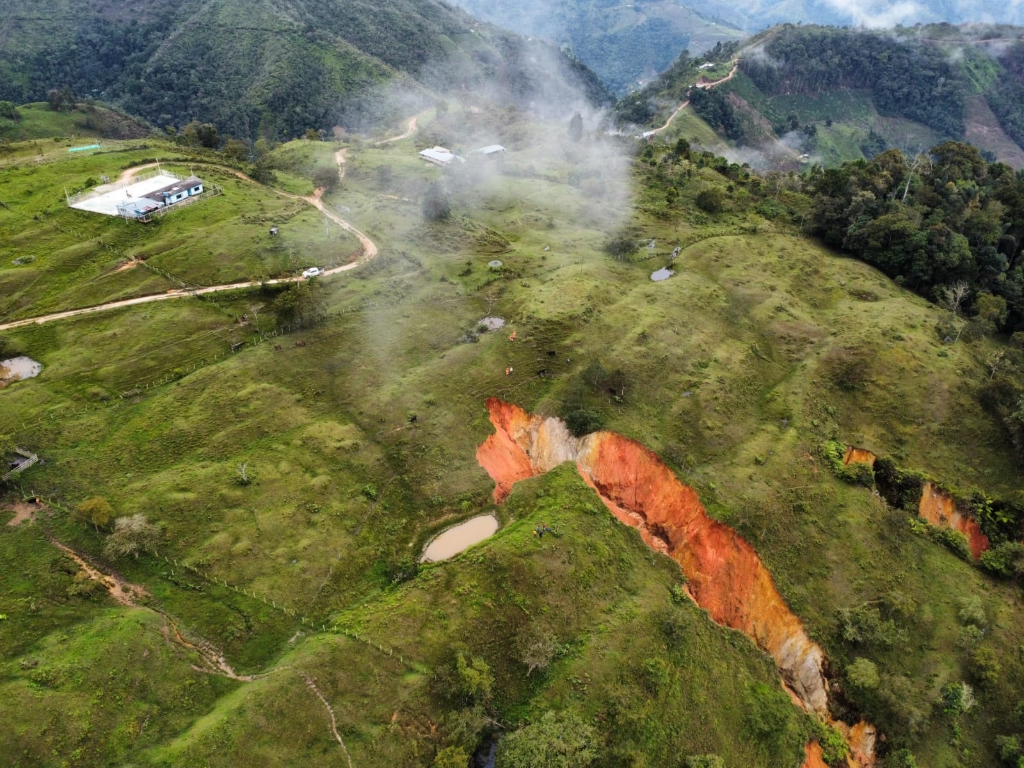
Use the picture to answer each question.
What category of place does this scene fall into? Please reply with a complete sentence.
What you see here is farmland.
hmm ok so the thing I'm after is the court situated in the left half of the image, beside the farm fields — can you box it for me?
[70,174,178,216]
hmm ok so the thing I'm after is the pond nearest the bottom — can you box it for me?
[421,515,498,562]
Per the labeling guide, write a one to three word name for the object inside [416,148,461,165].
house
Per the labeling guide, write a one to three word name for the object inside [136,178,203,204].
building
